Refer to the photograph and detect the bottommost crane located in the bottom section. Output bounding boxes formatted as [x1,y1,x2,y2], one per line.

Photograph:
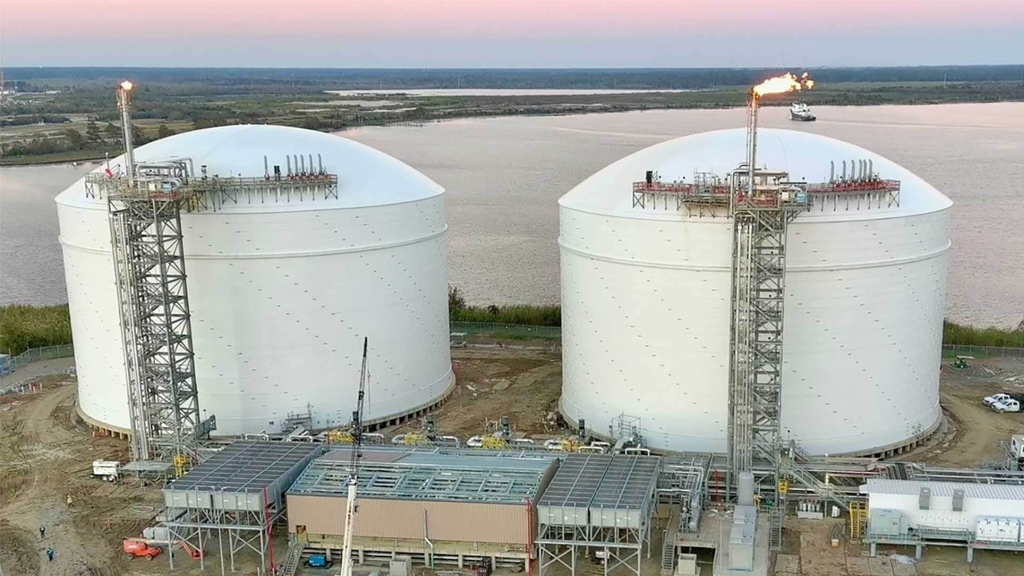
[337,336,377,576]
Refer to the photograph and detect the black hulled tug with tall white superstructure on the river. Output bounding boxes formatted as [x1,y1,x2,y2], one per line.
[791,98,817,120]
